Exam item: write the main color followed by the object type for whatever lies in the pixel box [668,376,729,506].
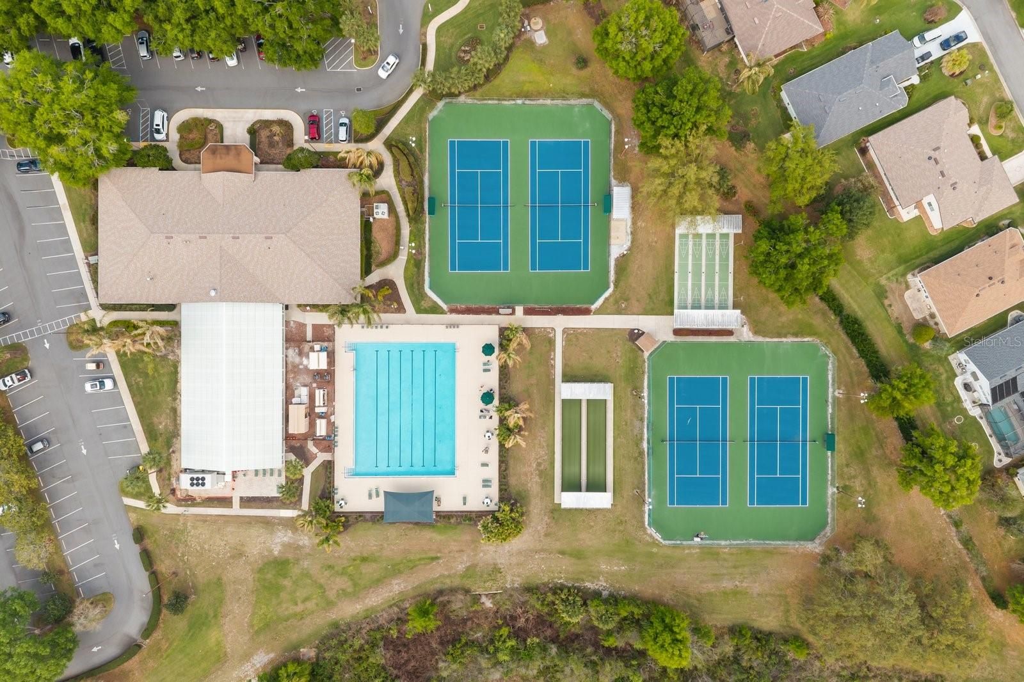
blue tennis court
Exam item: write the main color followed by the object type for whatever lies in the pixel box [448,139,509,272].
blue tennis court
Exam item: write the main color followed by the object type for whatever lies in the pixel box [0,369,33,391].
white truck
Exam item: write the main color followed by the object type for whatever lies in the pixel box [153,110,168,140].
white car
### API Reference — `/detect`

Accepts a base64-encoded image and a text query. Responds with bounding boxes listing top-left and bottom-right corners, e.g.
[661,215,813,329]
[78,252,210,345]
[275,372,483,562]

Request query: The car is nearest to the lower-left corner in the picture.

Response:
[27,437,53,456]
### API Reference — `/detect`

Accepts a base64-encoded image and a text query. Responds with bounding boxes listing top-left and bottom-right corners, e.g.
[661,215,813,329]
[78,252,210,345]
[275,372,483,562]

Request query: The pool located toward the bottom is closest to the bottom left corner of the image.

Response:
[335,324,498,512]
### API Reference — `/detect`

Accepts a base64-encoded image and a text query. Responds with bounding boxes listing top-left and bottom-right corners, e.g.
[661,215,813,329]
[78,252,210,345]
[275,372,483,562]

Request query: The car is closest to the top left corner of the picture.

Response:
[1,46,19,73]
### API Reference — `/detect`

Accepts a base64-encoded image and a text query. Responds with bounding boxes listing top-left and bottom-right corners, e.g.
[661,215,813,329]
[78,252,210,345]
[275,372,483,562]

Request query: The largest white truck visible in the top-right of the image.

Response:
[911,27,943,49]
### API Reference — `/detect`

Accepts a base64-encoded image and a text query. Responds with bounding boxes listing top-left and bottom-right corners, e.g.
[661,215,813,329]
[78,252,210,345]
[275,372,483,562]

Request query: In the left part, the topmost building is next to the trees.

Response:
[98,144,363,304]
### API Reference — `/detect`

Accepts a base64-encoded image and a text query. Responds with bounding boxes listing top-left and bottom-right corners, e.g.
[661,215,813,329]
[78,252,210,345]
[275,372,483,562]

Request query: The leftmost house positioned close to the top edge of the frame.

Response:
[716,0,824,67]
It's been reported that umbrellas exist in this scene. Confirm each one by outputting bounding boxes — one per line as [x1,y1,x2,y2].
[482,343,495,356]
[481,391,494,405]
